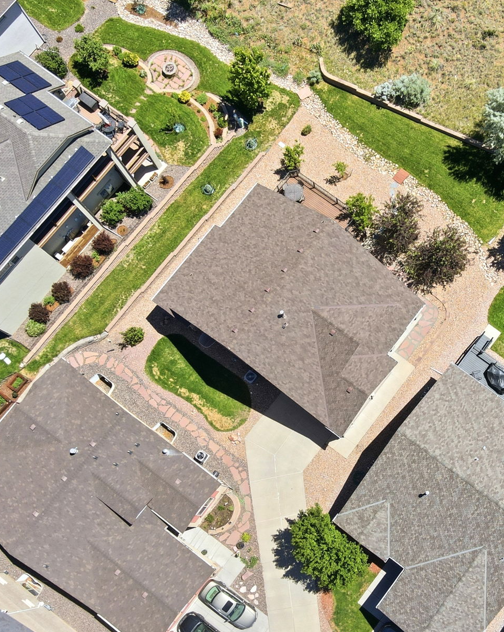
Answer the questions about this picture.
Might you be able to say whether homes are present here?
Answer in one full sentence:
Yes, there is a home in the image.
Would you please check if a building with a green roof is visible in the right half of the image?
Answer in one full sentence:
No, the scene shows no building with a green roof in the right half of the image.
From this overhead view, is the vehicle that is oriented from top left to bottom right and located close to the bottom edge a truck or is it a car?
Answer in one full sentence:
The vehicle that is oriented from top left to bottom right and located close to the bottom edge is a car.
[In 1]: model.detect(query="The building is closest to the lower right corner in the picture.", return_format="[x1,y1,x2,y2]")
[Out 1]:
[335,362,504,632]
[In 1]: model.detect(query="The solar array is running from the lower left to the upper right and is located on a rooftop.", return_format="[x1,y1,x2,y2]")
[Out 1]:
[0,146,94,264]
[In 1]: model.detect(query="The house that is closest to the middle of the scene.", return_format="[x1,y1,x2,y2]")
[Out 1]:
[152,183,425,438]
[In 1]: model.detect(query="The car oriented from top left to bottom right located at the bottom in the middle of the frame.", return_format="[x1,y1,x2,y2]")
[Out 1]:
[199,578,261,630]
